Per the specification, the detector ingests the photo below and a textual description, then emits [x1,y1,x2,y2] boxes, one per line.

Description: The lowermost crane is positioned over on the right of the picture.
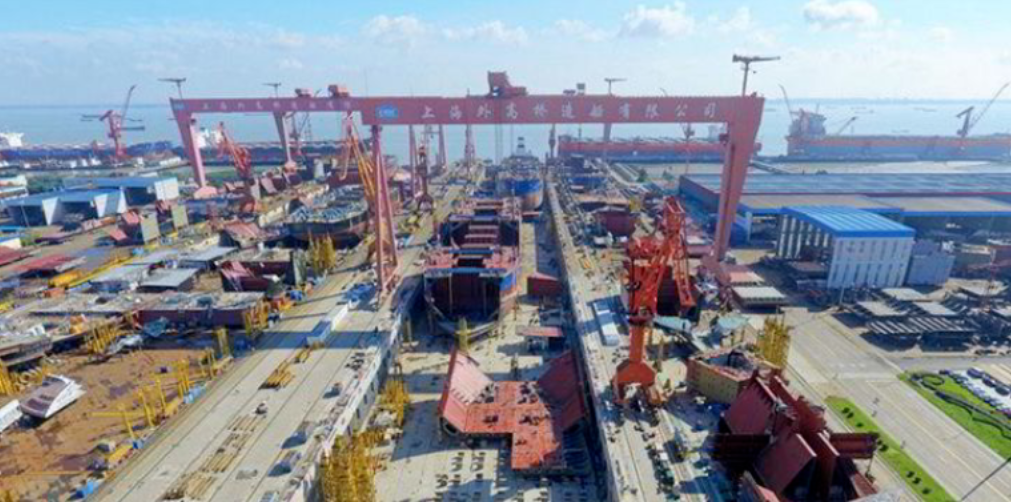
[606,194,700,406]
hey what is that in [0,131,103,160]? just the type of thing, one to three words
ship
